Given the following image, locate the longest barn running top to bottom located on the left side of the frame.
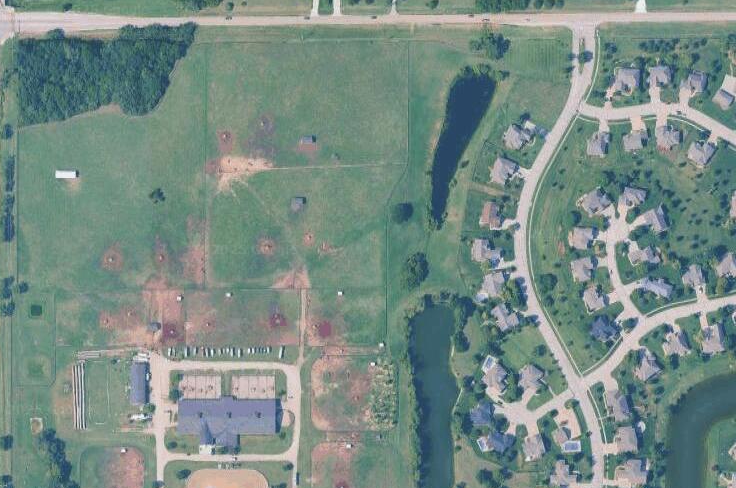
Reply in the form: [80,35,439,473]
[130,362,146,405]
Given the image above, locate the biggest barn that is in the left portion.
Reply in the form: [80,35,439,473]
[178,394,276,455]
